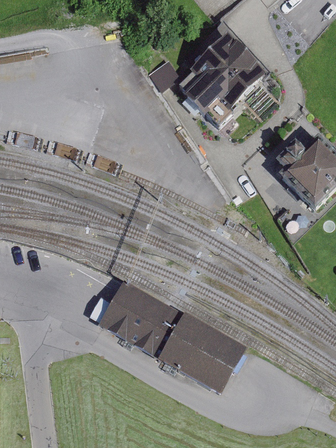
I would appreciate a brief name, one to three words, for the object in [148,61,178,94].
shed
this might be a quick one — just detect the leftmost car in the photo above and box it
[11,246,24,267]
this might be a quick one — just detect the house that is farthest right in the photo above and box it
[276,134,336,212]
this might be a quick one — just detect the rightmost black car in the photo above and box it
[28,250,41,274]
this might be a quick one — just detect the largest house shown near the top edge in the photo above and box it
[179,22,266,130]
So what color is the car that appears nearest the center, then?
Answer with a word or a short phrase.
white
